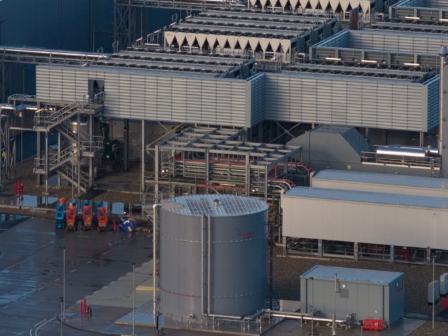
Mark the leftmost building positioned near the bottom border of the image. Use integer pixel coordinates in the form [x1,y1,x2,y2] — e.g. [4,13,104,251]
[299,260,419,322]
